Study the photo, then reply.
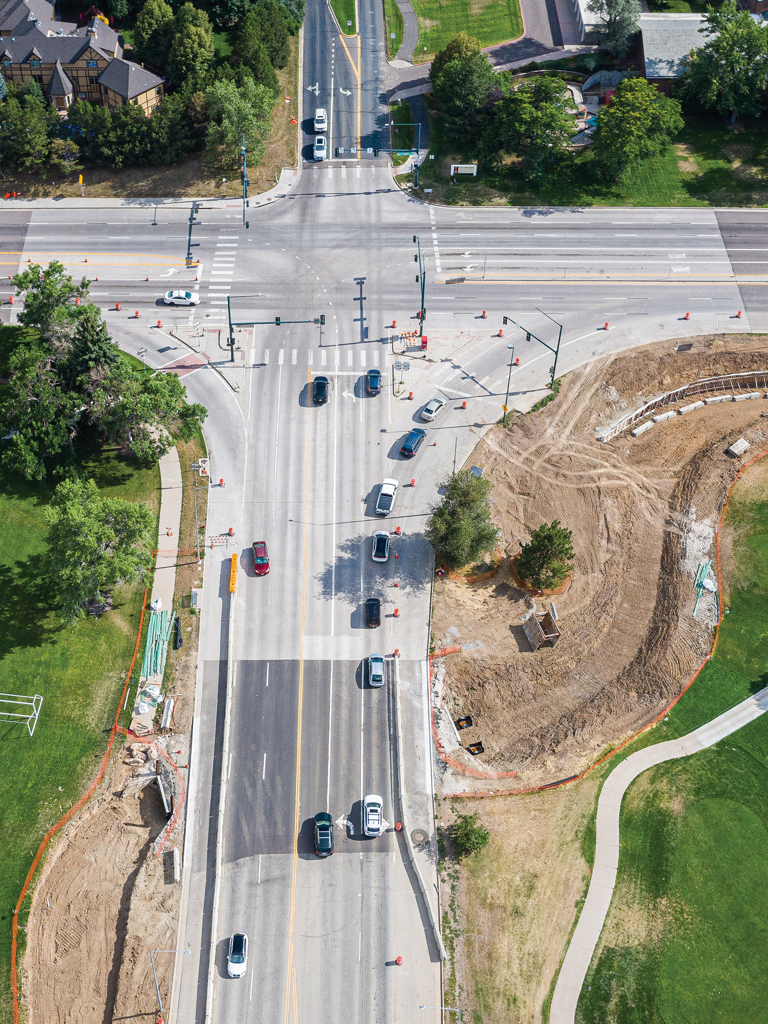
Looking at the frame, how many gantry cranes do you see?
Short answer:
0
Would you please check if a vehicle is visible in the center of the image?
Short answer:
Yes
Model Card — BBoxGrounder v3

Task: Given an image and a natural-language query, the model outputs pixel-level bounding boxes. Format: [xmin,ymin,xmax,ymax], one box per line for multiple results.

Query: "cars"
[366,370,383,396]
[225,931,249,979]
[162,289,200,305]
[401,428,426,458]
[314,110,328,132]
[420,396,447,422]
[364,598,383,630]
[312,377,330,403]
[252,542,271,575]
[372,531,391,563]
[312,812,335,858]
[362,795,385,837]
[367,653,387,689]
[313,139,327,160]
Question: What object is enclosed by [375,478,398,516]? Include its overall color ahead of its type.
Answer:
white truck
